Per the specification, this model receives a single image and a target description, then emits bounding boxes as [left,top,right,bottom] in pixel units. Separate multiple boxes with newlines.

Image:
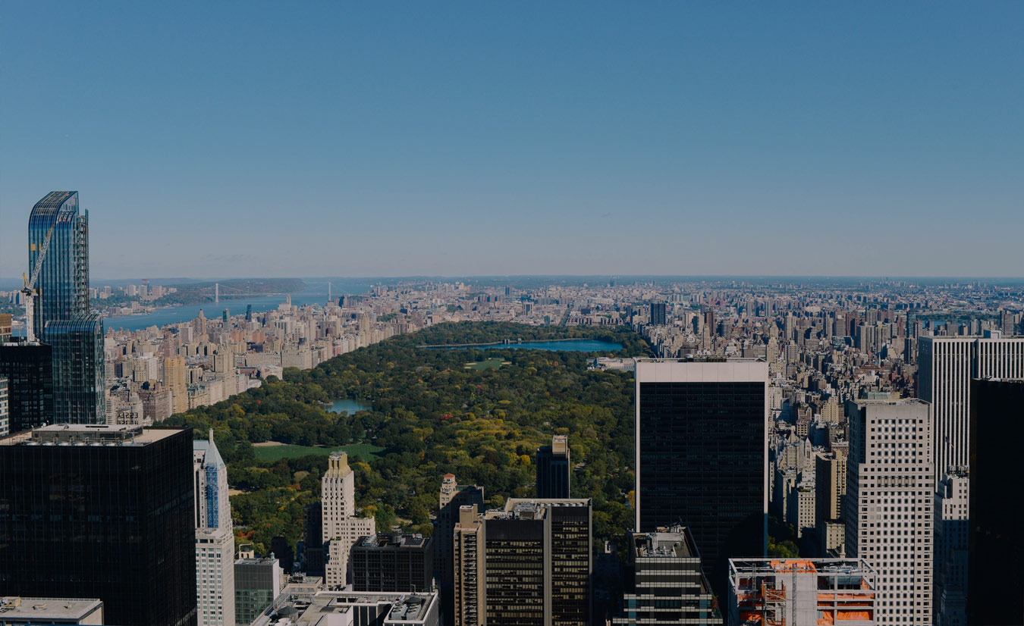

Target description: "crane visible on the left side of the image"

[17,219,58,339]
